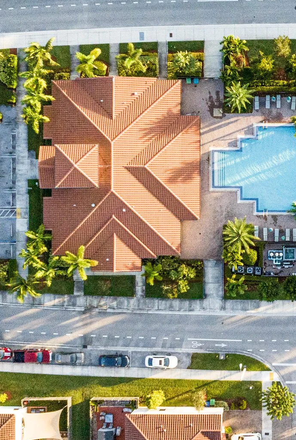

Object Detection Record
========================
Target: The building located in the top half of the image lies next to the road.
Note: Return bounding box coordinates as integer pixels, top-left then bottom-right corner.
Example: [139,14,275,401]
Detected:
[36,73,201,272]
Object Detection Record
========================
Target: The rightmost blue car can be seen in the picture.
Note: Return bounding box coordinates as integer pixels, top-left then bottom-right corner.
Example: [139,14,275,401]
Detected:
[99,354,131,367]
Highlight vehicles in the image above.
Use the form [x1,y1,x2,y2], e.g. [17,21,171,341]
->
[56,352,85,364]
[99,354,131,367]
[0,346,14,360]
[232,433,262,440]
[145,355,178,369]
[13,348,54,364]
